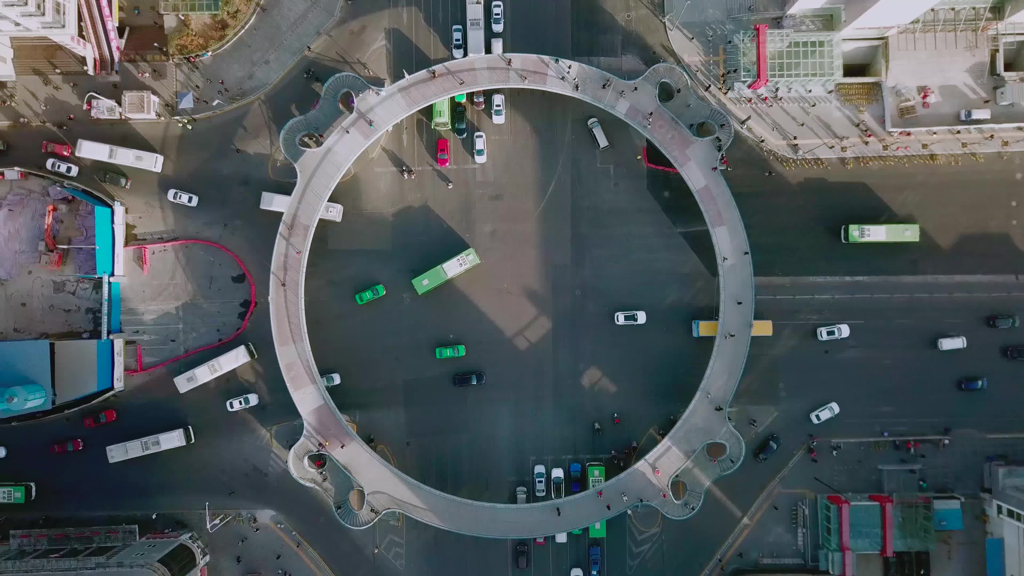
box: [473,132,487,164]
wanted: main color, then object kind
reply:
white car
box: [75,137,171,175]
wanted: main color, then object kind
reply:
white bus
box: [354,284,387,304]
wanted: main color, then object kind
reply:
green car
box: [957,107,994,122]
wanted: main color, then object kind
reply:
white vehicle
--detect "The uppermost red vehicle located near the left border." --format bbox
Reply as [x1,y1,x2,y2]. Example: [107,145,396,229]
[42,140,74,156]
